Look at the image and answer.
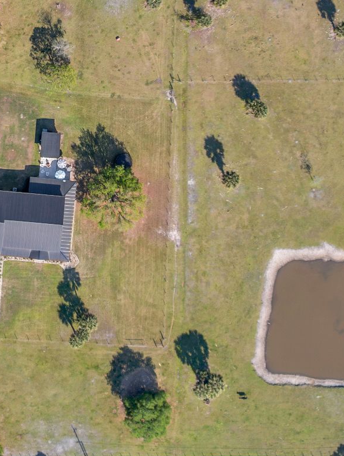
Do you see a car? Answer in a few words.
No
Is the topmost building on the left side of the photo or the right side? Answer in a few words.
left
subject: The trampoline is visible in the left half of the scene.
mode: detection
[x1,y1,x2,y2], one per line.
[115,152,133,169]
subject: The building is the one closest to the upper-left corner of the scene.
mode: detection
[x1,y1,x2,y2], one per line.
[40,132,61,158]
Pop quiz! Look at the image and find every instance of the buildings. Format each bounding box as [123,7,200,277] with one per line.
[0,177,77,263]
[40,132,61,158]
